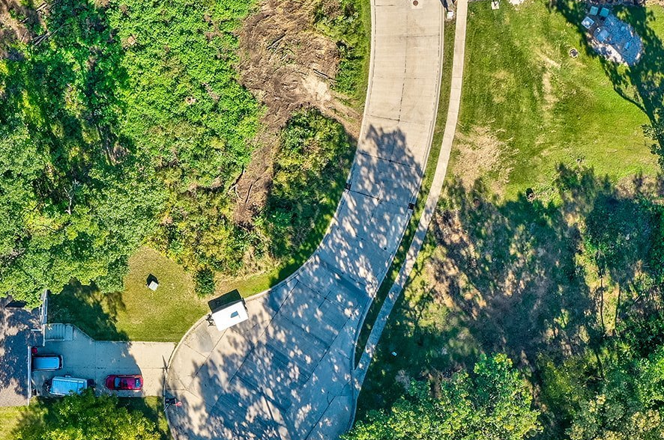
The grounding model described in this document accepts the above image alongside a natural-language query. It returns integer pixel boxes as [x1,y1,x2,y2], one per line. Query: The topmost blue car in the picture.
[30,353,63,372]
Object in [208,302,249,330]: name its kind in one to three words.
trailer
